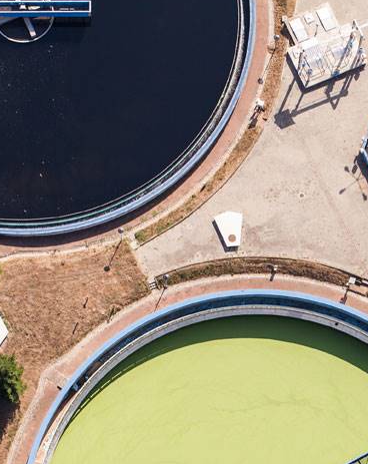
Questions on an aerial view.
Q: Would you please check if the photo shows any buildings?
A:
No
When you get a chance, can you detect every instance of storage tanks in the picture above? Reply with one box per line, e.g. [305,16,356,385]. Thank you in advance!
[0,0,257,239]
[26,289,368,464]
